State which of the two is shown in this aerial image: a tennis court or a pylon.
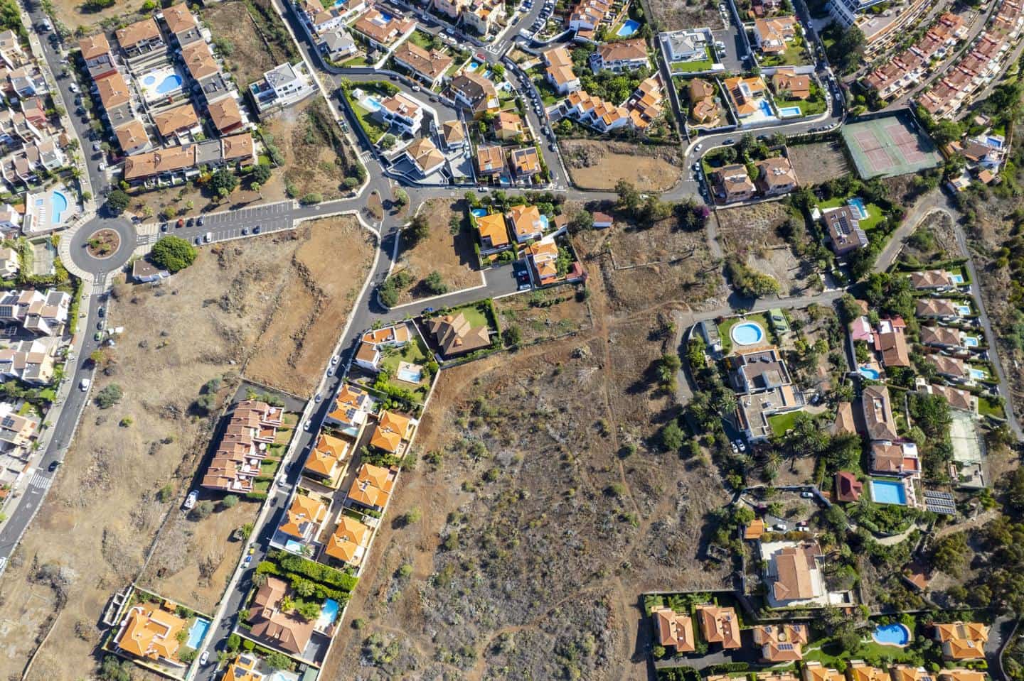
tennis court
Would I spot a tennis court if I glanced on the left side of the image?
No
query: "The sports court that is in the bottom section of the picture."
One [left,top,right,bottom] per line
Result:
[949,412,981,463]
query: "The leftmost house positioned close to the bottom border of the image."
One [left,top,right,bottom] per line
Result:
[123,609,192,661]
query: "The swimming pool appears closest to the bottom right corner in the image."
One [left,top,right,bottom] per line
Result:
[872,623,910,647]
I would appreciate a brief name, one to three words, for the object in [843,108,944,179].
tennis court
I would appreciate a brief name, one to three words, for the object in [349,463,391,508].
house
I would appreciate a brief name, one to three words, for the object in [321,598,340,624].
swimming pool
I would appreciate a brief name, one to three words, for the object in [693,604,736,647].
house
